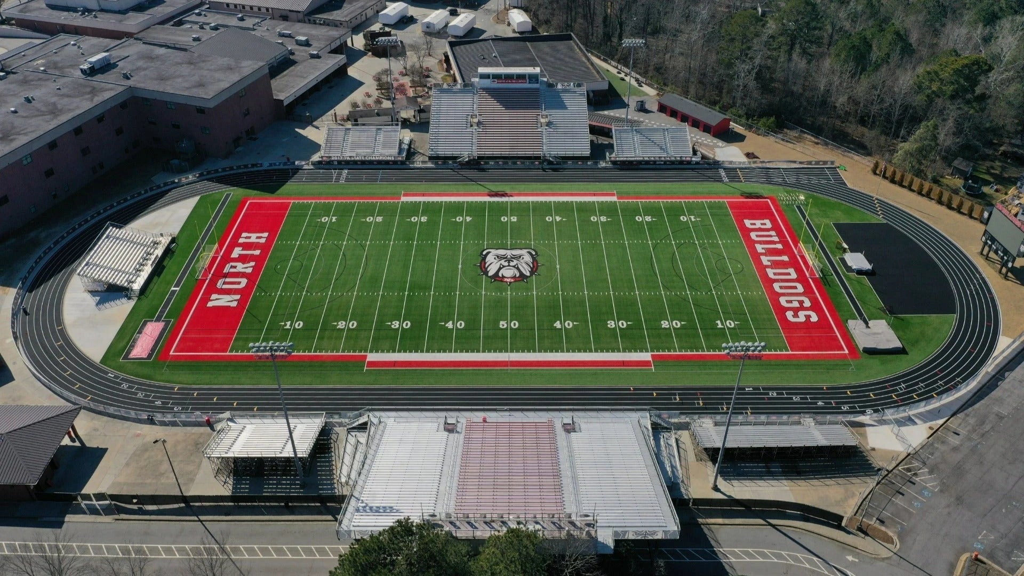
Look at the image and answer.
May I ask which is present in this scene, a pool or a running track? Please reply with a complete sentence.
Of the two, only a running track appears.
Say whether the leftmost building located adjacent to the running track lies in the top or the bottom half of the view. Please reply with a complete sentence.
The leftmost building located adjacent to the running track sits in the bottom half of the picture.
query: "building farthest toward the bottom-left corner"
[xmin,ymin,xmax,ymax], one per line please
[0,405,82,496]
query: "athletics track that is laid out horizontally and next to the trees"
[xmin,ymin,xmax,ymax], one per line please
[16,168,1001,417]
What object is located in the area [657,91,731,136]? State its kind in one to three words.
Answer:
shed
